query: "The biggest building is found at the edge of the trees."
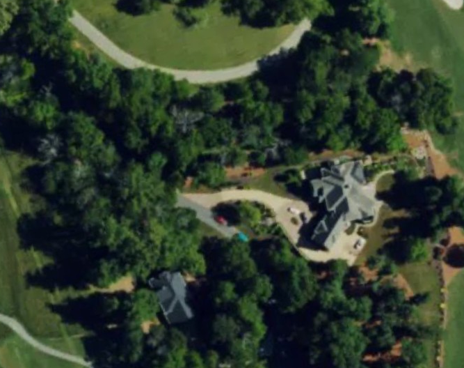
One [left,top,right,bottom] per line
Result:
[305,160,383,248]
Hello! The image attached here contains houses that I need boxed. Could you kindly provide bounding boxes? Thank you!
[305,160,383,248]
[146,268,193,324]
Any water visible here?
No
